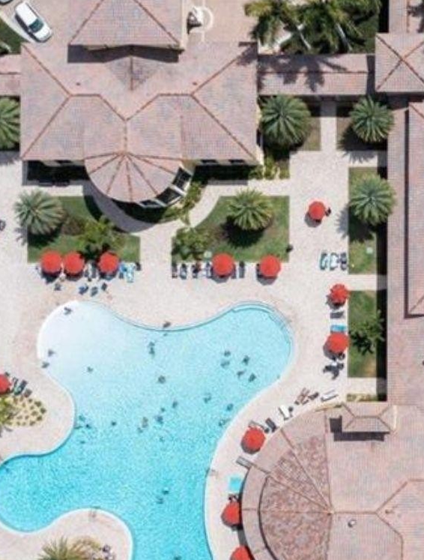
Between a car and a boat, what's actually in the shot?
car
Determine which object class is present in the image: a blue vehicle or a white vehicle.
white vehicle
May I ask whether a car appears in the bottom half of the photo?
No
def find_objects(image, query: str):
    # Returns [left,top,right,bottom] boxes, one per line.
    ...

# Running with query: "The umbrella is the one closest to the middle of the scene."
[213,251,238,275]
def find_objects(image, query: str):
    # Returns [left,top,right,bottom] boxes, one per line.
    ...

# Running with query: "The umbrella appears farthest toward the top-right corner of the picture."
[305,199,328,224]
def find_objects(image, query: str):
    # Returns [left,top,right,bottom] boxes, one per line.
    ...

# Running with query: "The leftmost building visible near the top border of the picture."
[15,0,262,206]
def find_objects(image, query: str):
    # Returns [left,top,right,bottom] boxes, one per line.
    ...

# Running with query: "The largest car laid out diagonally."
[16,1,53,42]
